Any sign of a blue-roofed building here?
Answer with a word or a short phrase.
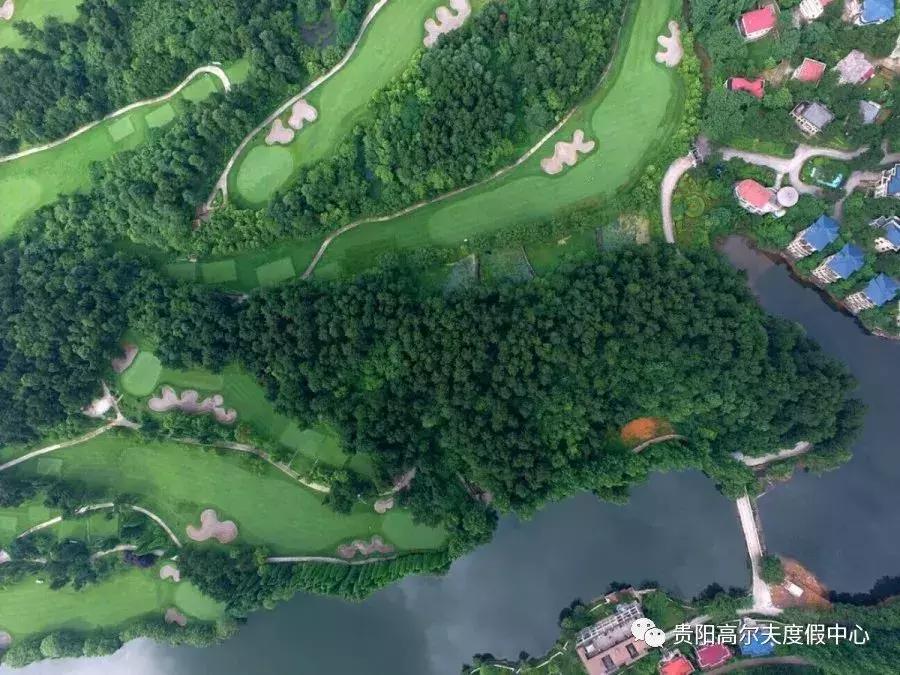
Yes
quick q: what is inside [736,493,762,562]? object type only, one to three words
bridge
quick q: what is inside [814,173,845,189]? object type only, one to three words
swimming pool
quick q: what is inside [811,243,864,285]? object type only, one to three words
house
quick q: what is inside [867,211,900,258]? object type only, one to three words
house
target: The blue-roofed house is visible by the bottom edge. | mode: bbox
[737,612,776,656]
